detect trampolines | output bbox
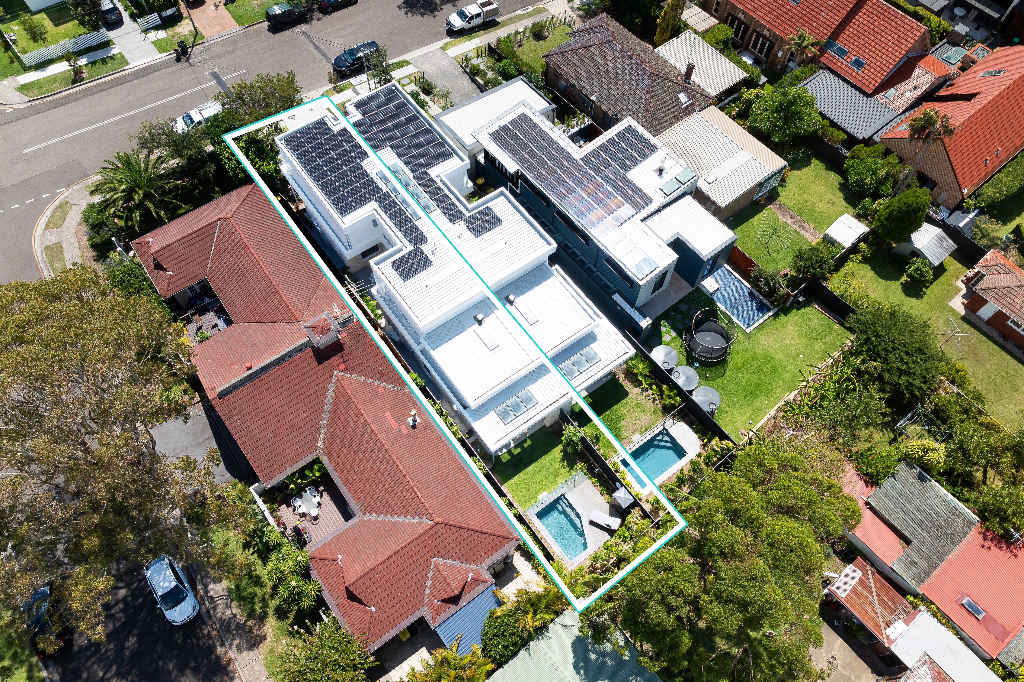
[684,307,739,365]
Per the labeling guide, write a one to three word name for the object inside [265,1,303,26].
car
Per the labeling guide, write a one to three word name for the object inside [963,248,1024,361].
house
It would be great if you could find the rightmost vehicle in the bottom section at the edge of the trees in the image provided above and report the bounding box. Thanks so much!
[143,557,199,635]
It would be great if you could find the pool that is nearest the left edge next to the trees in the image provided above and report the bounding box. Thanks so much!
[528,487,593,568]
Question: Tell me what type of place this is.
residential area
